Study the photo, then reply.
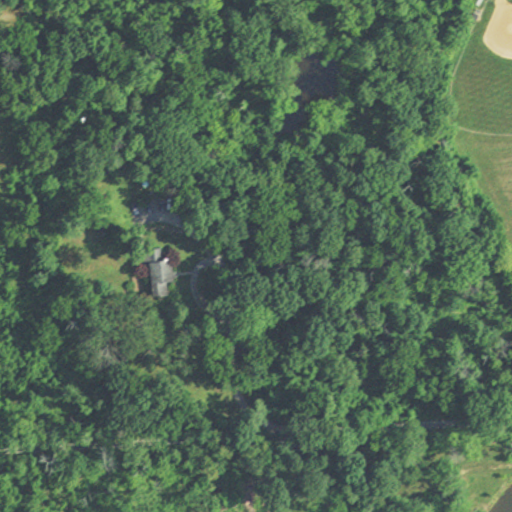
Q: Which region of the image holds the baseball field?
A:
top right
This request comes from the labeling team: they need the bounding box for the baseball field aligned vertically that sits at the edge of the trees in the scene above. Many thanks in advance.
[450,0,512,136]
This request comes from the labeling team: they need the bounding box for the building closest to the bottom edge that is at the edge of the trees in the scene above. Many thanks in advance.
[150,258,178,298]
